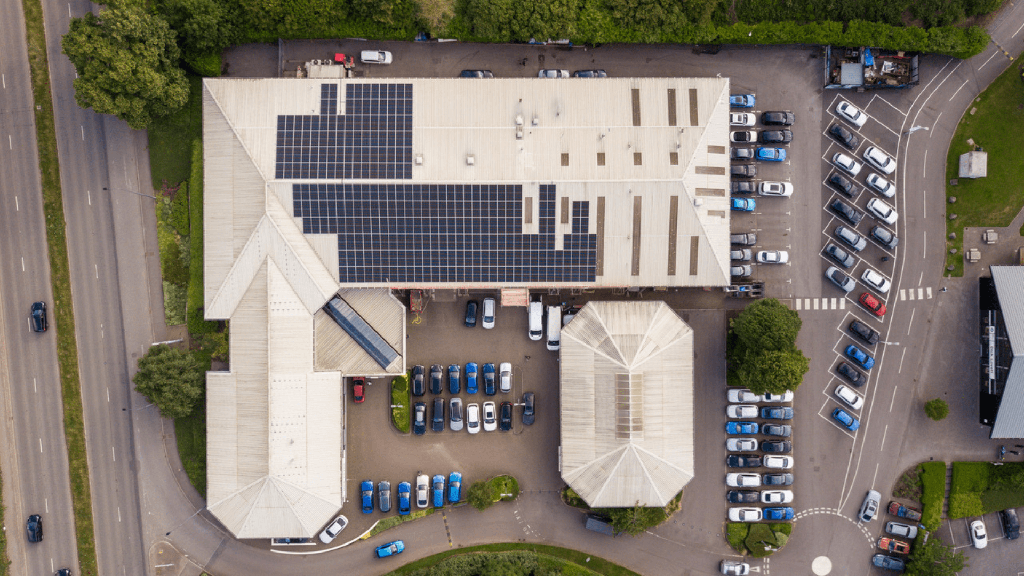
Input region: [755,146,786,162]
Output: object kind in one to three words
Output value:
car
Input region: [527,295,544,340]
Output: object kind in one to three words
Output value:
vehicle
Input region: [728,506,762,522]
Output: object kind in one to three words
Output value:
car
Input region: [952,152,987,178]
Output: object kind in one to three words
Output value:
shed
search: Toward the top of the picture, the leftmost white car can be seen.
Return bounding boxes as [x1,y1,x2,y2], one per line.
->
[360,49,393,65]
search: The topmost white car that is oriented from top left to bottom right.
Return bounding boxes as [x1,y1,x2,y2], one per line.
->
[836,100,868,127]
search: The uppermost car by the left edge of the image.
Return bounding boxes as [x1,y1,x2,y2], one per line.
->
[29,301,49,332]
